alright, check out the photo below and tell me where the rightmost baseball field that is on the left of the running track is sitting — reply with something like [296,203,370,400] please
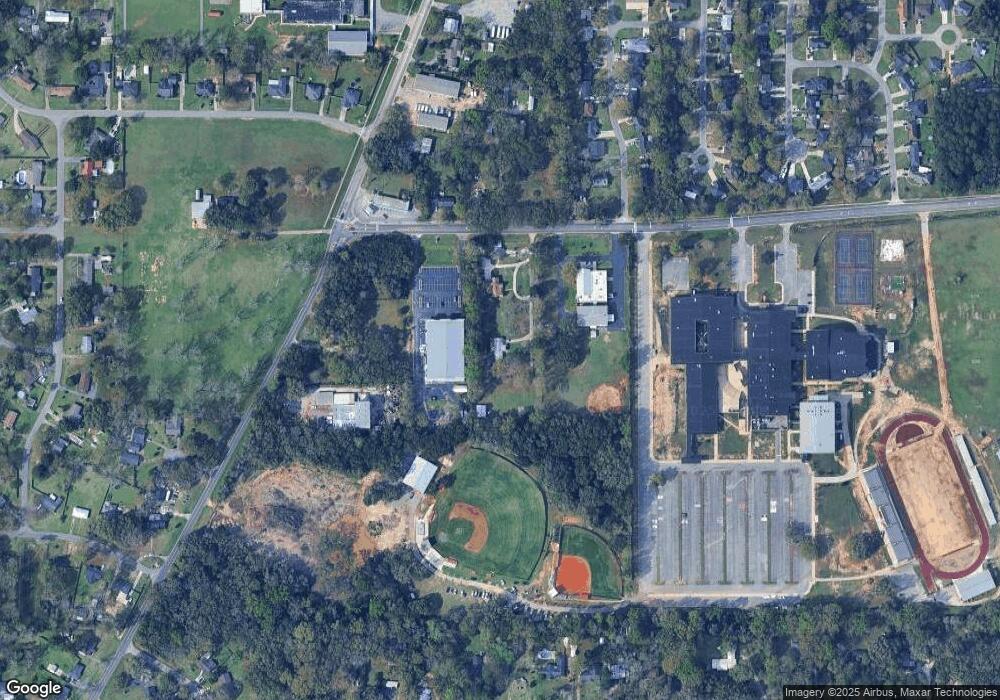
[555,524,628,599]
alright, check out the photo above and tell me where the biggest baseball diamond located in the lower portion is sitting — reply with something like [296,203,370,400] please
[430,421,597,580]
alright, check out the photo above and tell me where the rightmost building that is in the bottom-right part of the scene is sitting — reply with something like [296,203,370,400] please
[955,569,996,598]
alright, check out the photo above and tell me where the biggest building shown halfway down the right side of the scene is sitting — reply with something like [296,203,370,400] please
[671,290,805,464]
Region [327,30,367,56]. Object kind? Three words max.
barn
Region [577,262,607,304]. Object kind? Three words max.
building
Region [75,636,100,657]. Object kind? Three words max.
house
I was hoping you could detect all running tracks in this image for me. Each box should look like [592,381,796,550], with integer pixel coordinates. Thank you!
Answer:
[872,413,992,595]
